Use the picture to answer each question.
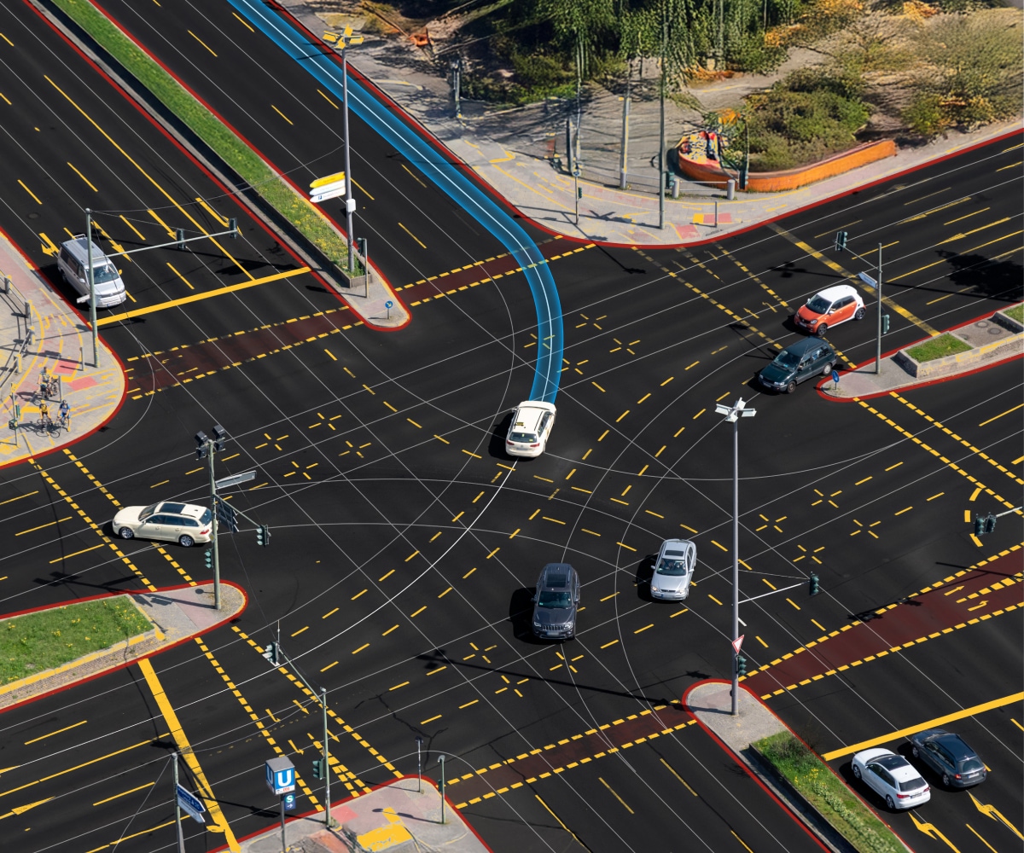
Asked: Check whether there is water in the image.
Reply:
No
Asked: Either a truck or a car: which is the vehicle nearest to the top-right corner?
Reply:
car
